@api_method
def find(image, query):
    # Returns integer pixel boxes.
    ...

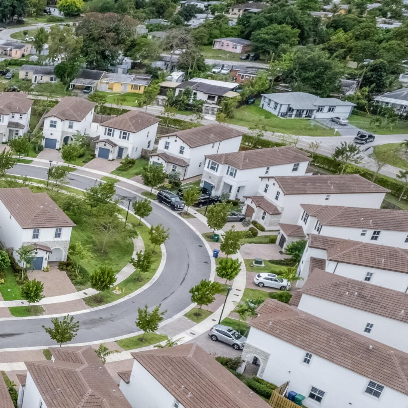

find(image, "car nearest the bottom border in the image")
[206,319,241,347]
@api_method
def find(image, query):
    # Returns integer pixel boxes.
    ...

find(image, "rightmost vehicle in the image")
[353,130,376,143]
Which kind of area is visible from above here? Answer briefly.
residential area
